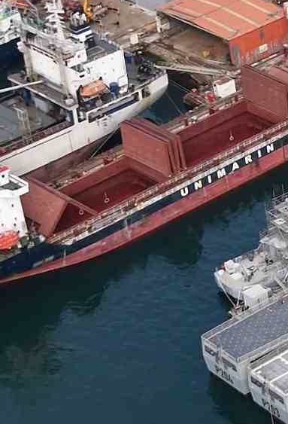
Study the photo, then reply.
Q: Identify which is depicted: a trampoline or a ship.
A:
ship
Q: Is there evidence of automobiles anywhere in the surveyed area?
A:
No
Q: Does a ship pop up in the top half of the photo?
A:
Yes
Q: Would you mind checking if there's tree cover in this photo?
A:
No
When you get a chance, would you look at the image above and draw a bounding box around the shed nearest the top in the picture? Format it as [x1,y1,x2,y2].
[163,0,288,71]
